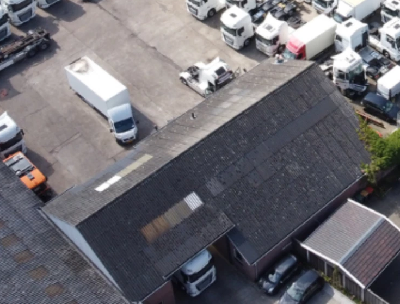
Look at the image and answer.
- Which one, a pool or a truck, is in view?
truck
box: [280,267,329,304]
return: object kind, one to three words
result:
car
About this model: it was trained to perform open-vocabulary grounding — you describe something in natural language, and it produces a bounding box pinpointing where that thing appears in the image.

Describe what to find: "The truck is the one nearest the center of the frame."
[179,54,236,97]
